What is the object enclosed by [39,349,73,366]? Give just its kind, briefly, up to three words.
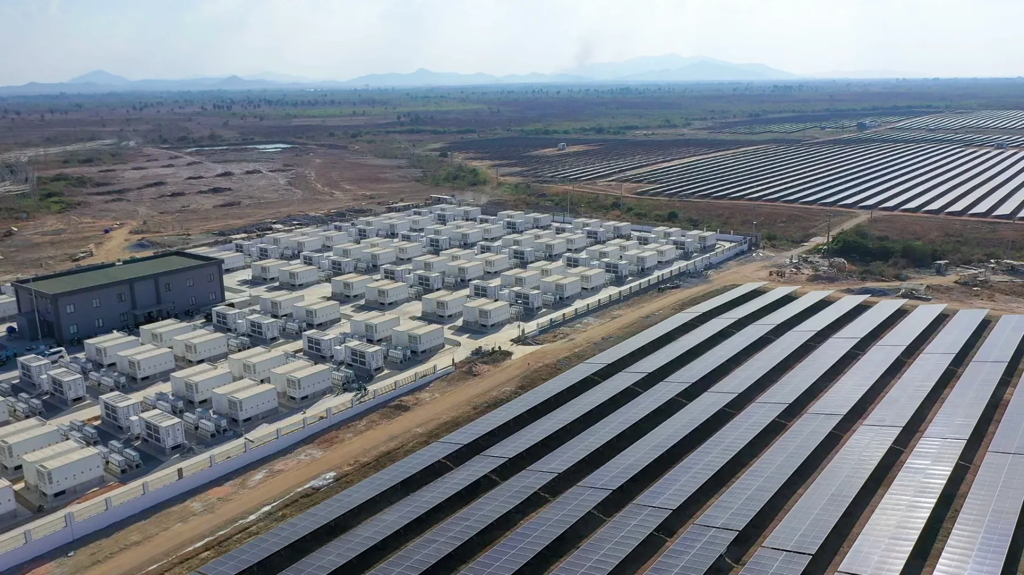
car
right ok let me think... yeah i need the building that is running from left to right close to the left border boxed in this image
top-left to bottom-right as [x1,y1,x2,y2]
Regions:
[0,250,227,345]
